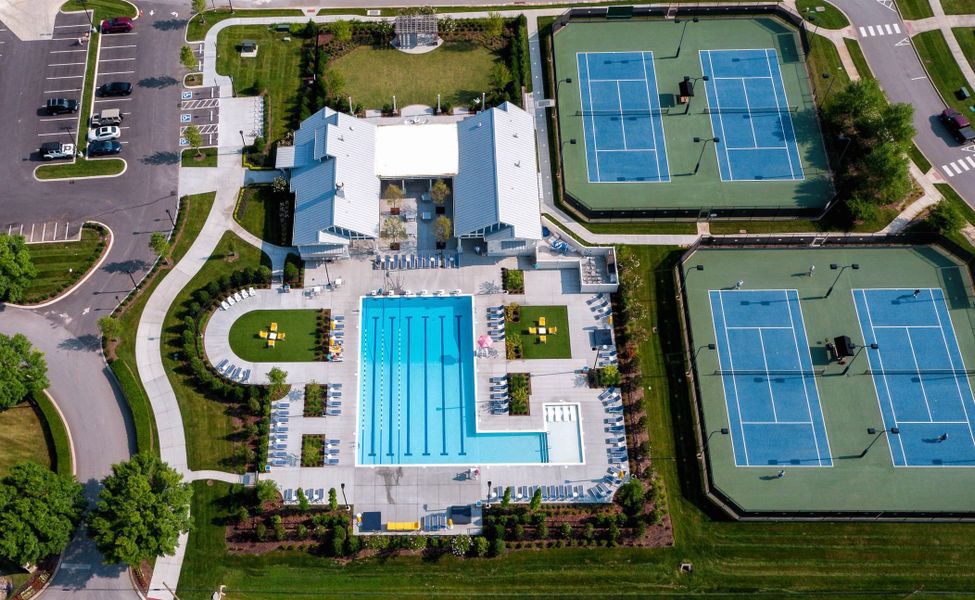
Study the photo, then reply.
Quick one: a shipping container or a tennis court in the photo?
tennis court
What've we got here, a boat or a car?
car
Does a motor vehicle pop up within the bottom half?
No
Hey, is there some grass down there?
Yes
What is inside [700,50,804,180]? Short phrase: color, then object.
blue tennis court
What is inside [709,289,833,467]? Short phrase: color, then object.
blue tennis court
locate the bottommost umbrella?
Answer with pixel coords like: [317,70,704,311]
[476,335,493,350]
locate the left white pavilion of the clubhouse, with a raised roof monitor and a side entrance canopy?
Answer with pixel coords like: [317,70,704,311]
[275,108,383,260]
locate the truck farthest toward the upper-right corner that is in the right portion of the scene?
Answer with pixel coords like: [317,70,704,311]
[942,108,975,144]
